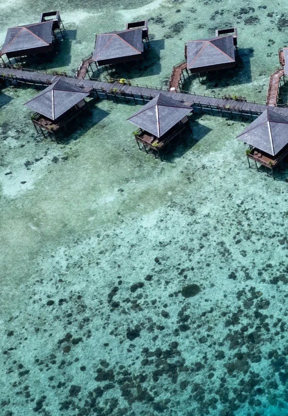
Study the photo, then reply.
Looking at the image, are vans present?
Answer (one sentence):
No, the photo shows no van.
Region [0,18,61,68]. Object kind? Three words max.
house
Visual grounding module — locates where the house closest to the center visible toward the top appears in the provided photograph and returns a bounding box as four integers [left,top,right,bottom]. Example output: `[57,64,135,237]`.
[123,99,192,166]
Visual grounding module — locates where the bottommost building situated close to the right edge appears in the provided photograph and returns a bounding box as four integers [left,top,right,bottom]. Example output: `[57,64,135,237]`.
[235,115,288,185]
